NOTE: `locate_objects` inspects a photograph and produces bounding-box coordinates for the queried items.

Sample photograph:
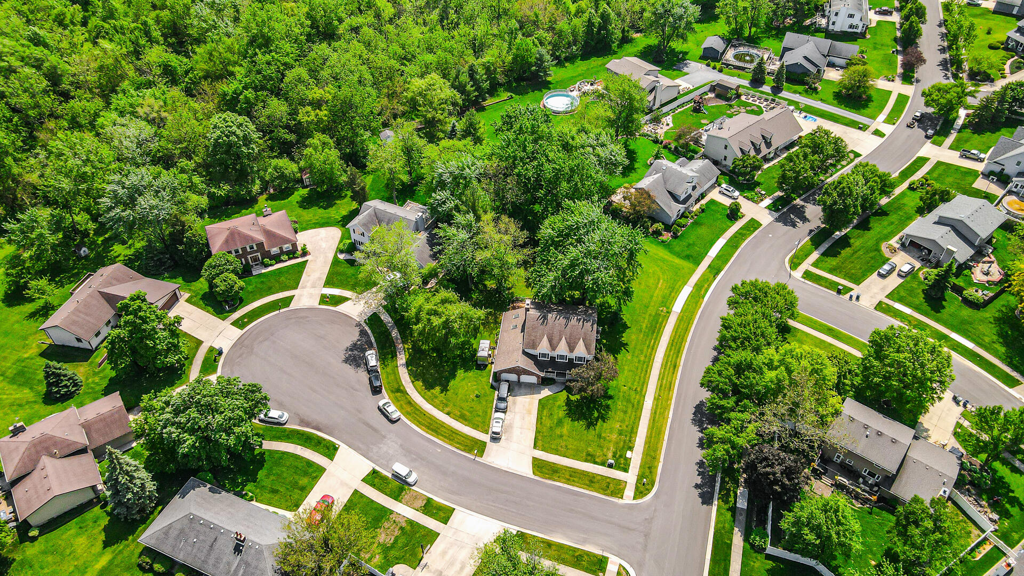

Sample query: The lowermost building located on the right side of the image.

[817,395,960,518]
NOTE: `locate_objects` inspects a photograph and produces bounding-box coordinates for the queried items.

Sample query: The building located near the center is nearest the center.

[494,297,603,384]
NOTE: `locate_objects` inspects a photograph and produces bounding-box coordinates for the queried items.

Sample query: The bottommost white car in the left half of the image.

[391,461,418,484]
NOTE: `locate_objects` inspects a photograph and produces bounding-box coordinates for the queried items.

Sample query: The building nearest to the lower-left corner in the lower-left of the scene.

[0,390,136,522]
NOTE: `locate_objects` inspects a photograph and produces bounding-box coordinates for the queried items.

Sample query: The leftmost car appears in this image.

[259,410,290,425]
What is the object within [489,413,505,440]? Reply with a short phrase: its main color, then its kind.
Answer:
white car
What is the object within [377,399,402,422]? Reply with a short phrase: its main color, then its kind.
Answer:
white car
